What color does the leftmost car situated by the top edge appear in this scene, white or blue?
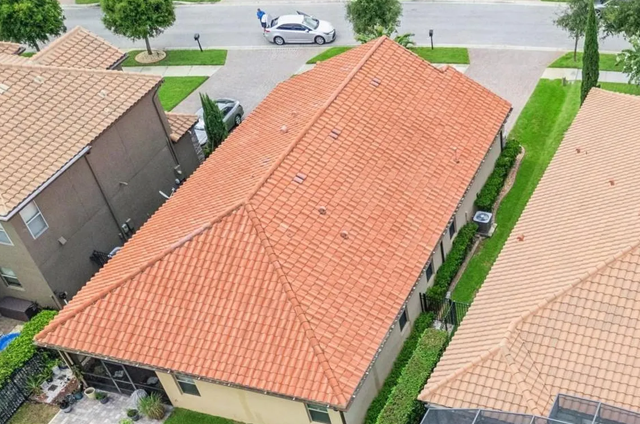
white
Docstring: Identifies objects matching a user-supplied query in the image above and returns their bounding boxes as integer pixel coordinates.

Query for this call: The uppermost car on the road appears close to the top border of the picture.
[260,3,338,43]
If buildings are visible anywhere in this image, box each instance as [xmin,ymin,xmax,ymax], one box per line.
[32,33,515,424]
[419,82,640,424]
